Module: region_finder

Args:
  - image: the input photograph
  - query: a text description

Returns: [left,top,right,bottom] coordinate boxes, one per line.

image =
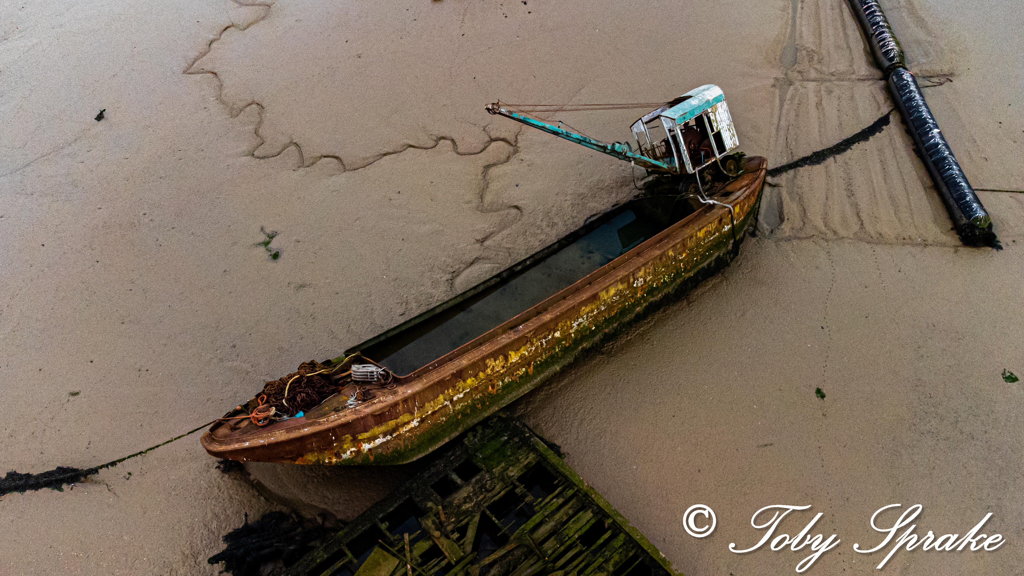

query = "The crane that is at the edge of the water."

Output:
[483,87,740,201]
